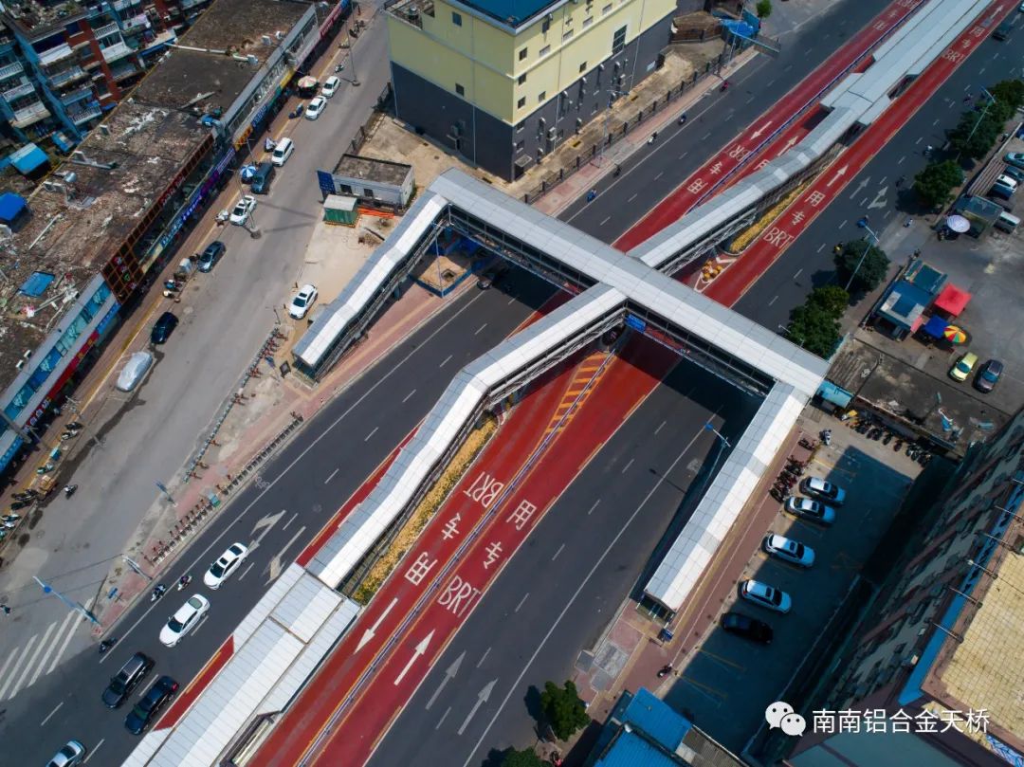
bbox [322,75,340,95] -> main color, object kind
white car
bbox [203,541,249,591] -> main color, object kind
white car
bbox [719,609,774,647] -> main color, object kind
black car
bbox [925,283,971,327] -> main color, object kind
red gazebo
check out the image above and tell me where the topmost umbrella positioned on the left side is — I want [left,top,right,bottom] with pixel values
[297,78,320,98]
